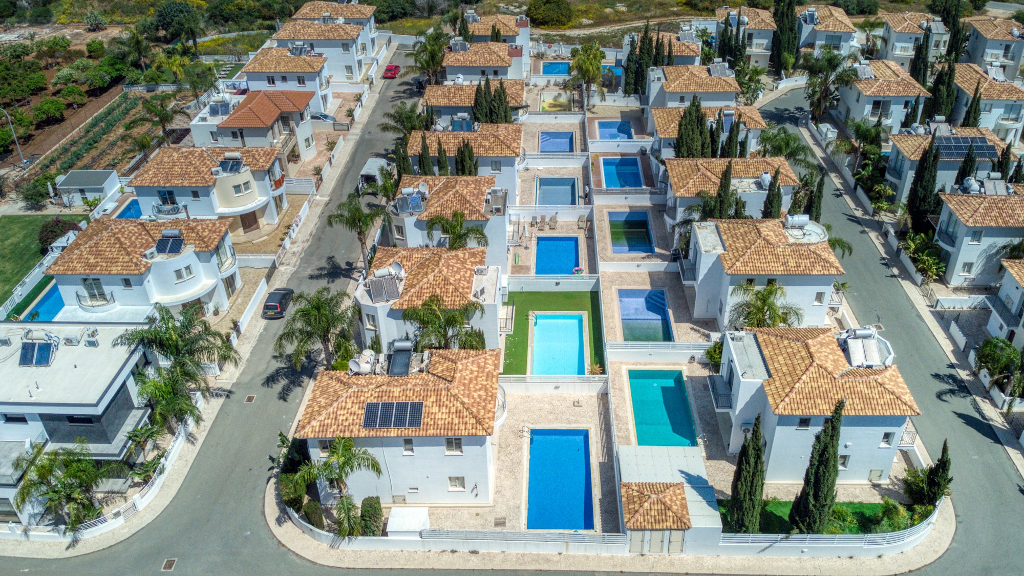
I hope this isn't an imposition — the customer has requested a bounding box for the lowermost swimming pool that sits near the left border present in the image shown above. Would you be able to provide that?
[19,280,68,319]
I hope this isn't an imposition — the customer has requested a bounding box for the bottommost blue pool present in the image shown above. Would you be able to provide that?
[520,424,601,534]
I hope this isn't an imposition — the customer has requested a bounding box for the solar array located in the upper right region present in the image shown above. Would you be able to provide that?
[928,130,1004,154]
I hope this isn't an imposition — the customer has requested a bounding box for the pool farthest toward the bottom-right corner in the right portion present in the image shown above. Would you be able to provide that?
[622,366,706,452]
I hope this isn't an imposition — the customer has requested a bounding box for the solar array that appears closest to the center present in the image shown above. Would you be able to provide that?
[364,397,432,423]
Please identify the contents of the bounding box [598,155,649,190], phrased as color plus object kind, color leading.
blue swimming pool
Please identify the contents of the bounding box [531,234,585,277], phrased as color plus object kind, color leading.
blue swimming pool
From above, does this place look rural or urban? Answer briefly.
urban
